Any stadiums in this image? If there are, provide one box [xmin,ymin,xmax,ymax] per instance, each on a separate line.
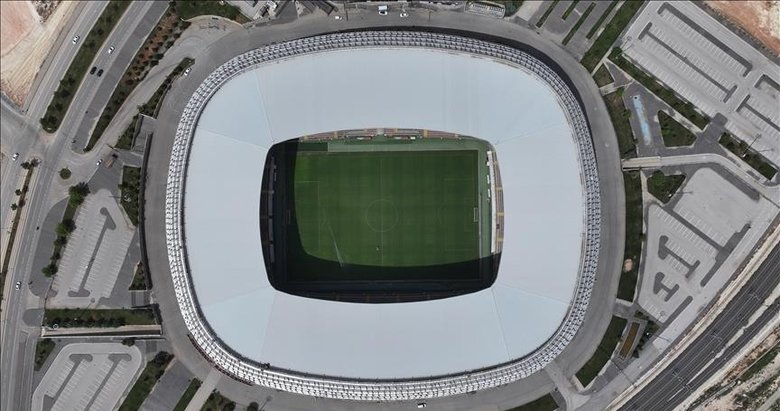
[167,31,599,401]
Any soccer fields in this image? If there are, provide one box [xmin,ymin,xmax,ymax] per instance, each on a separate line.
[265,133,498,297]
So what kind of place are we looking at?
sports ground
